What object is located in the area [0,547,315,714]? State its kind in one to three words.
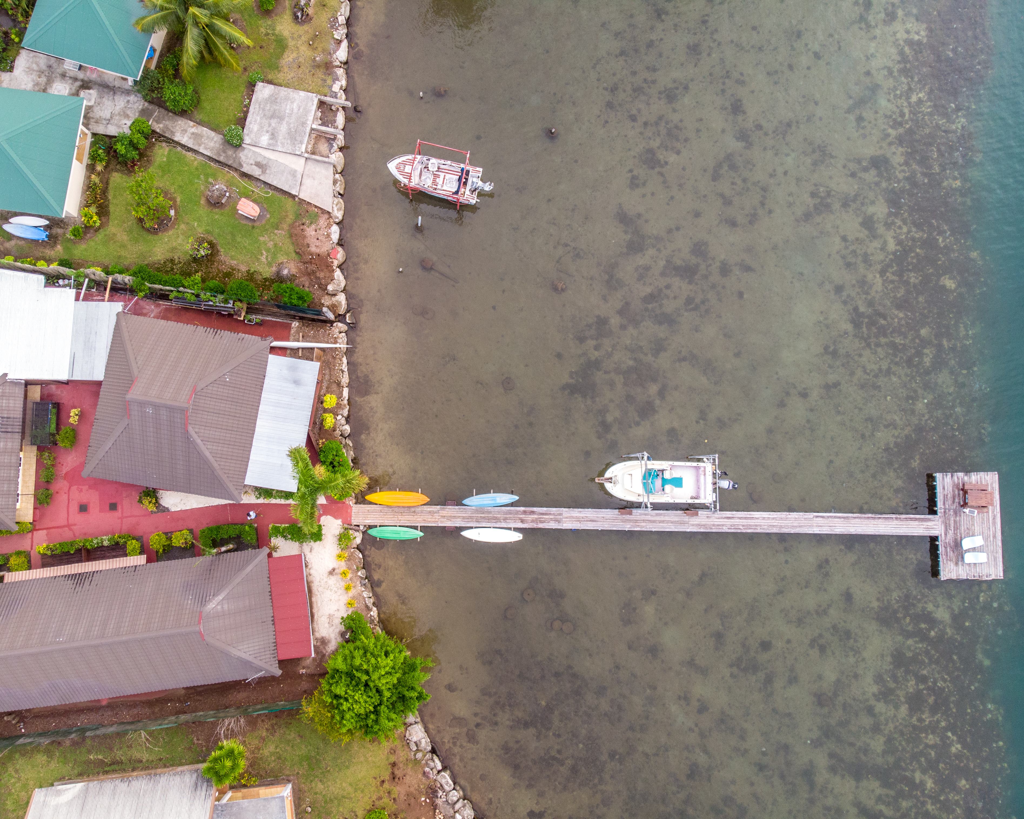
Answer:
house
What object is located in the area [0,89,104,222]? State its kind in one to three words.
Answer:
building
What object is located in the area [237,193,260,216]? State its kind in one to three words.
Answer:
boat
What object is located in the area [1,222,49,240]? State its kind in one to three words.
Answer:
boat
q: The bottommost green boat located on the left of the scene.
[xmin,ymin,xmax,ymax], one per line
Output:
[367,526,424,540]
